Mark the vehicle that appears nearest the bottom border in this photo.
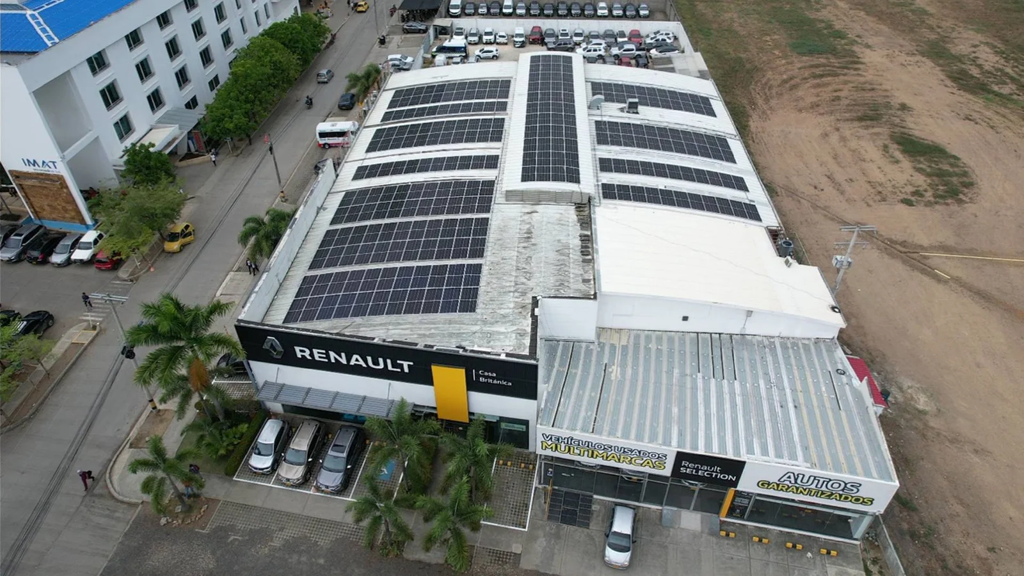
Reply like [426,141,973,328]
[603,499,639,568]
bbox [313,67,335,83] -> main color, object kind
gray car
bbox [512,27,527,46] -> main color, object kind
white car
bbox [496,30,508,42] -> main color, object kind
white vehicle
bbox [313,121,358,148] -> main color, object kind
white vehicle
